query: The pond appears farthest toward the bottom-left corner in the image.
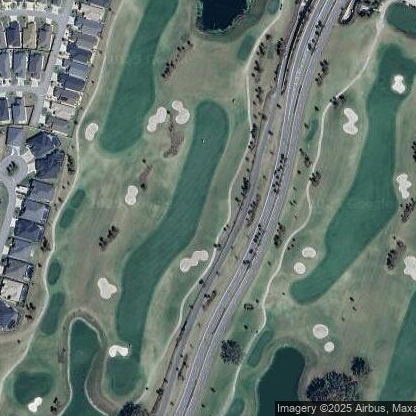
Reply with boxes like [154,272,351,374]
[62,319,104,416]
